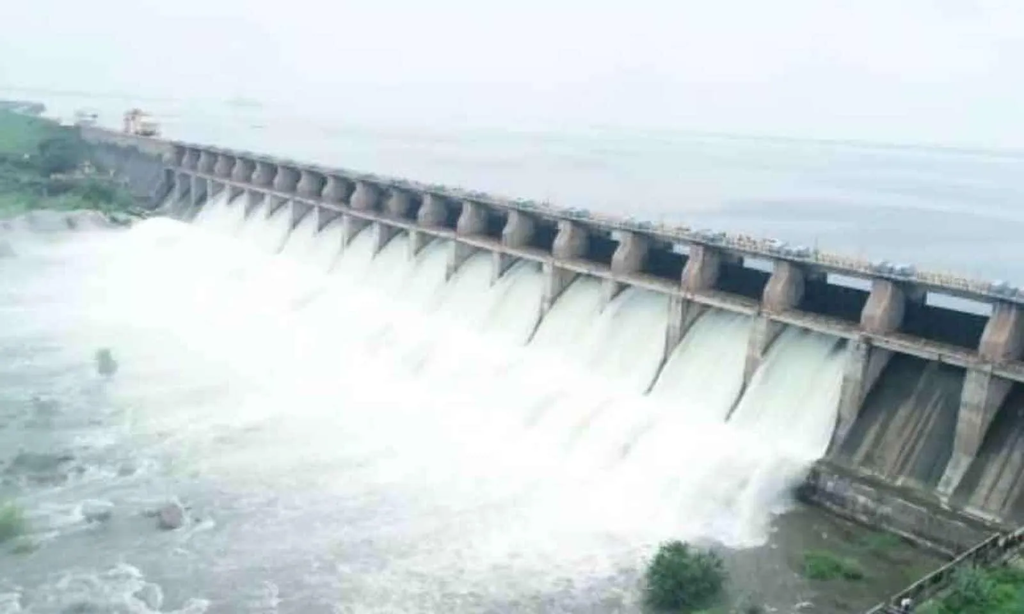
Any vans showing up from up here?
No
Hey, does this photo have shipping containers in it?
No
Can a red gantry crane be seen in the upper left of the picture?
No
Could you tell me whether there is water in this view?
Yes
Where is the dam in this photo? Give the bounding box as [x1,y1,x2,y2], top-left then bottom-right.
[151,139,1024,564]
